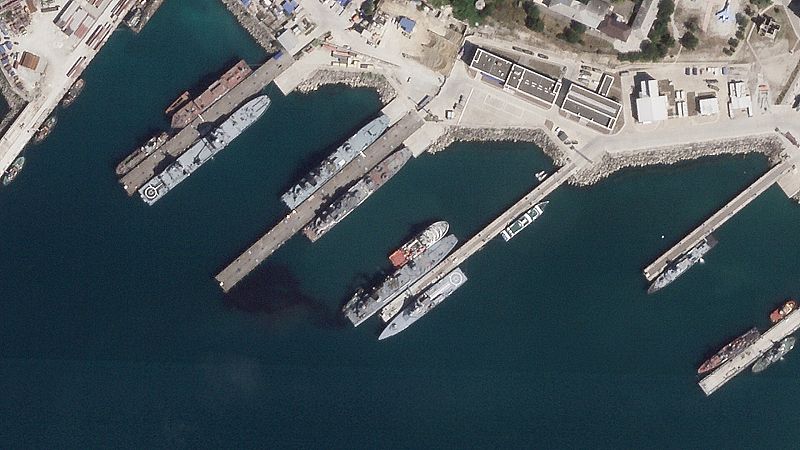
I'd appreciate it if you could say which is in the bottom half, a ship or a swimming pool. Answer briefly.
ship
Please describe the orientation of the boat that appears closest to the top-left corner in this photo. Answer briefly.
at an angle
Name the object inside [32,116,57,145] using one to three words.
boat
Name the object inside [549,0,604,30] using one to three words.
house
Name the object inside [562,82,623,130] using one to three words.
building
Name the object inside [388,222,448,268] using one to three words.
ship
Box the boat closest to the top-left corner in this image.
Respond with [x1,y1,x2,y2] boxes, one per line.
[62,80,84,107]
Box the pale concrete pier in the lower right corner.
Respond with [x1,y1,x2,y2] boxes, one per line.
[698,305,800,395]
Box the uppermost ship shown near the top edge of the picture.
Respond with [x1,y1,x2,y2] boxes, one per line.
[120,0,165,37]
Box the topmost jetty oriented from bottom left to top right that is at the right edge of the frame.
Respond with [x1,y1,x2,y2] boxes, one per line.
[643,161,788,280]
